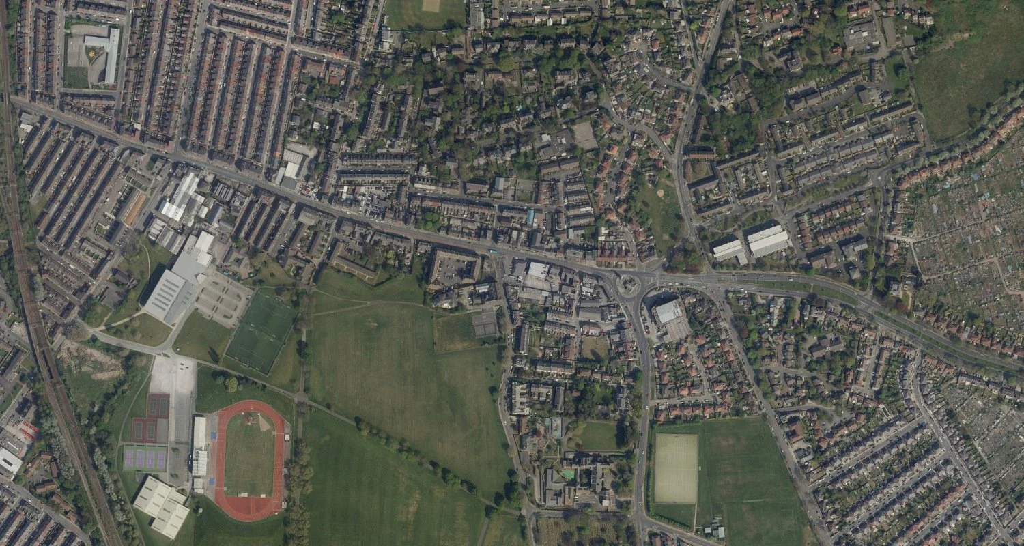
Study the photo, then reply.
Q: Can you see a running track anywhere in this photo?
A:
Yes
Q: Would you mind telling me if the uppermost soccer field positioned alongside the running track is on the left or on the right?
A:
left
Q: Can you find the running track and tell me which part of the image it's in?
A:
bottom left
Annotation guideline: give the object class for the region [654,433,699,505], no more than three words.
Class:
sports field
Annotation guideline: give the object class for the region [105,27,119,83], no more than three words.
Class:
building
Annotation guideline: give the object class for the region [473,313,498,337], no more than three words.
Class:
sports court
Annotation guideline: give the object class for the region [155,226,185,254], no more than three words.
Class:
shed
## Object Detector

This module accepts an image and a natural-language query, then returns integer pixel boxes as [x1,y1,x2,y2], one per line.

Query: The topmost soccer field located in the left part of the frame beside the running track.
[224,290,300,376]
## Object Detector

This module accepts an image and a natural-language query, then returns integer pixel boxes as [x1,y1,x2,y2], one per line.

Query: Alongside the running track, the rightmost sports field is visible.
[296,400,486,546]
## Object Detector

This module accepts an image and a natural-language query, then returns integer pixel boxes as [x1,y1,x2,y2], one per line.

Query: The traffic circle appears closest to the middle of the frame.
[609,266,649,306]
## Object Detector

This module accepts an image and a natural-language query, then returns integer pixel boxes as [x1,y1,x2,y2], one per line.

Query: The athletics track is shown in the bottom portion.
[214,400,285,523]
